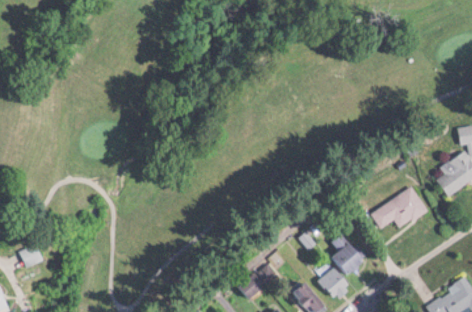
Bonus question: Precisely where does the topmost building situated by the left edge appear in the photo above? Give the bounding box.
[18,246,43,269]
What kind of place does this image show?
golf course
